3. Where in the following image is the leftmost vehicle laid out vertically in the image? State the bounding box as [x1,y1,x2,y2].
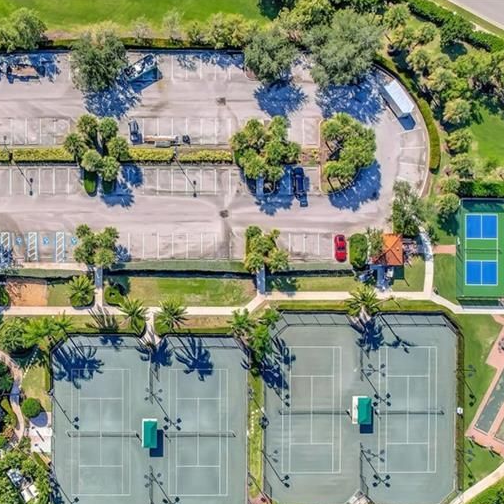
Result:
[128,119,140,147]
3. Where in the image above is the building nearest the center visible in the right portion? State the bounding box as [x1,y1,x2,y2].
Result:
[369,234,404,265]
